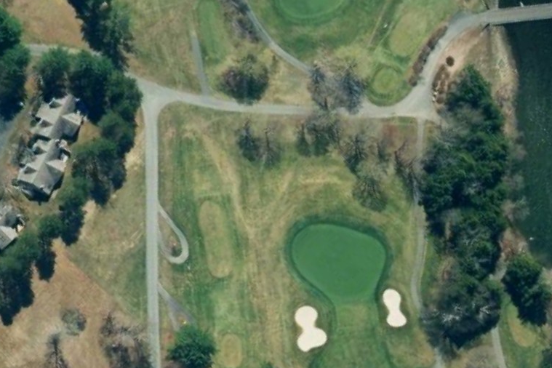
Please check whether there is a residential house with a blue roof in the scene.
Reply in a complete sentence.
No, no residential house with a blue roof is visible in the view.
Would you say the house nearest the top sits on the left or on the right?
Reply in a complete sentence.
The house nearest the top sits on the left side.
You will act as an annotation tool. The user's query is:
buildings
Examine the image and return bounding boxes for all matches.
[19,134,67,189]
[32,86,83,142]
[0,207,18,246]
